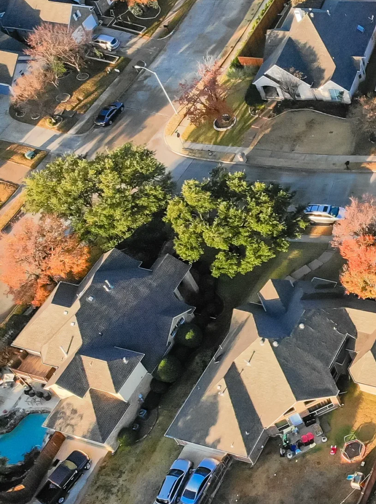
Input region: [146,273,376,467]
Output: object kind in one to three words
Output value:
house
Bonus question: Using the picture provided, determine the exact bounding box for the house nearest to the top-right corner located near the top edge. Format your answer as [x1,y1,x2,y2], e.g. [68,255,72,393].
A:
[249,0,376,107]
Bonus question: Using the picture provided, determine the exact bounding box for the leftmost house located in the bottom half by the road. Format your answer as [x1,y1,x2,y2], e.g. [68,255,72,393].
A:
[12,247,225,456]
